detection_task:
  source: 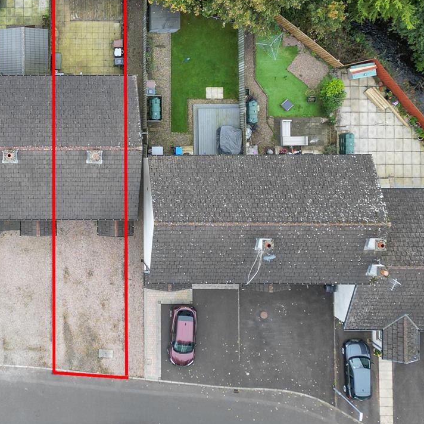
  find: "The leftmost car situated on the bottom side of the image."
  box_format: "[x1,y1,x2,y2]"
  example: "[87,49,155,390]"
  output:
[167,305,199,364]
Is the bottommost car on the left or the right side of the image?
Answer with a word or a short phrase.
right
